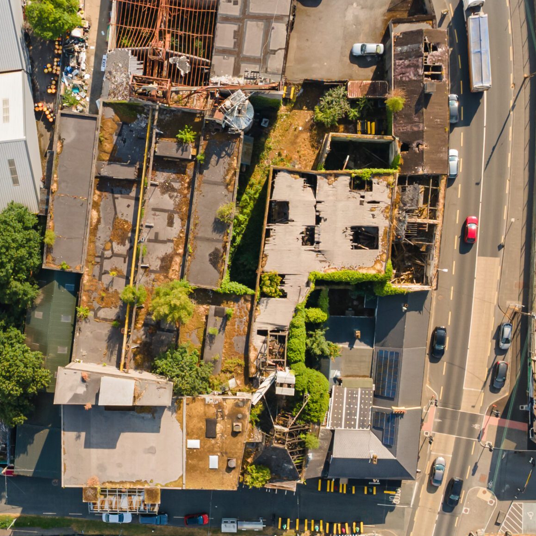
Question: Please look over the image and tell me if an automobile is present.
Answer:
Yes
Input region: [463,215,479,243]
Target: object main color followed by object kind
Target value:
red car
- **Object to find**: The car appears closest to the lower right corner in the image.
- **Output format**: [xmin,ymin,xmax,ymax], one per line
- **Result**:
[447,477,463,507]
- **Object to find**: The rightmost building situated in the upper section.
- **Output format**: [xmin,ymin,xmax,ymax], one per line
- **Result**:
[388,30,449,175]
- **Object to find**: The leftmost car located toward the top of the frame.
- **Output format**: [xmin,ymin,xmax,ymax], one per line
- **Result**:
[352,42,383,57]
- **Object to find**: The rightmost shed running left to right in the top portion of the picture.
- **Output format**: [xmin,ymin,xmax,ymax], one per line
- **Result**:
[347,81,387,98]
